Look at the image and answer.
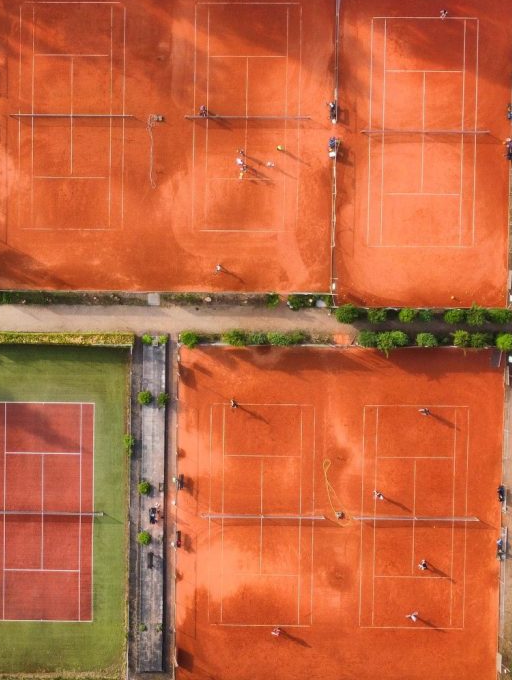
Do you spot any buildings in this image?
No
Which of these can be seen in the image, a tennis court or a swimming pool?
tennis court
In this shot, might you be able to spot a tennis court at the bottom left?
Yes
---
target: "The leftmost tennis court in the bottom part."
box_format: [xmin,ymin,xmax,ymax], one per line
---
[0,343,130,679]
